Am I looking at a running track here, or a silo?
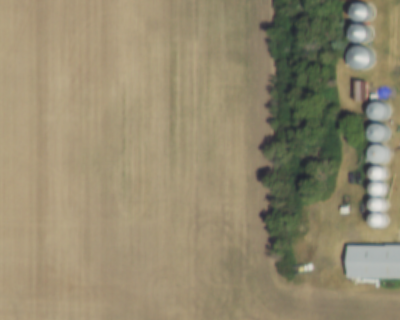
silo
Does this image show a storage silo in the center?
No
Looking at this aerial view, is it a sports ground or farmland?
farmland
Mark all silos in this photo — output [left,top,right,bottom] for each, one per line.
[366,100,392,122]
[346,44,376,72]
[347,24,374,44]
[367,197,389,213]
[367,182,389,198]
[366,143,392,164]
[367,166,389,182]
[378,85,394,99]
[366,122,392,144]
[367,212,389,228]
[349,2,376,22]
